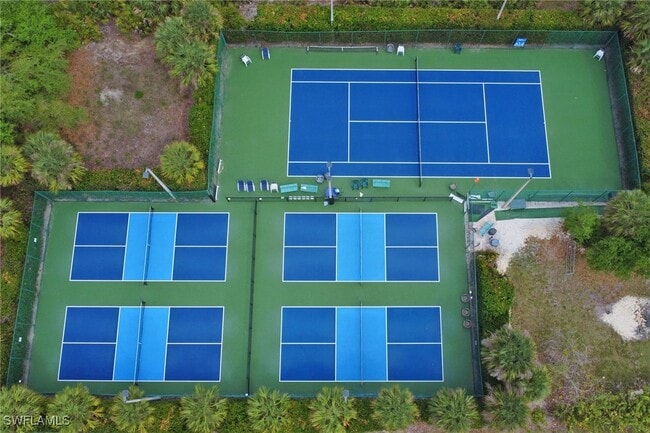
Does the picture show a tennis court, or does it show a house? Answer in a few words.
tennis court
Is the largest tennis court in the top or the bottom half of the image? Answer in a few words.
top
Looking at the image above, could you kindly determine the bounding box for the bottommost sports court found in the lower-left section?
[56,306,224,381]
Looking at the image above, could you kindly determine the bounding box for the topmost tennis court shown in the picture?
[218,48,621,202]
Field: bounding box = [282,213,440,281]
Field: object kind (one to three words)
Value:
sports court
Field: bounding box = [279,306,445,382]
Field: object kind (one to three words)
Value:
sports court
